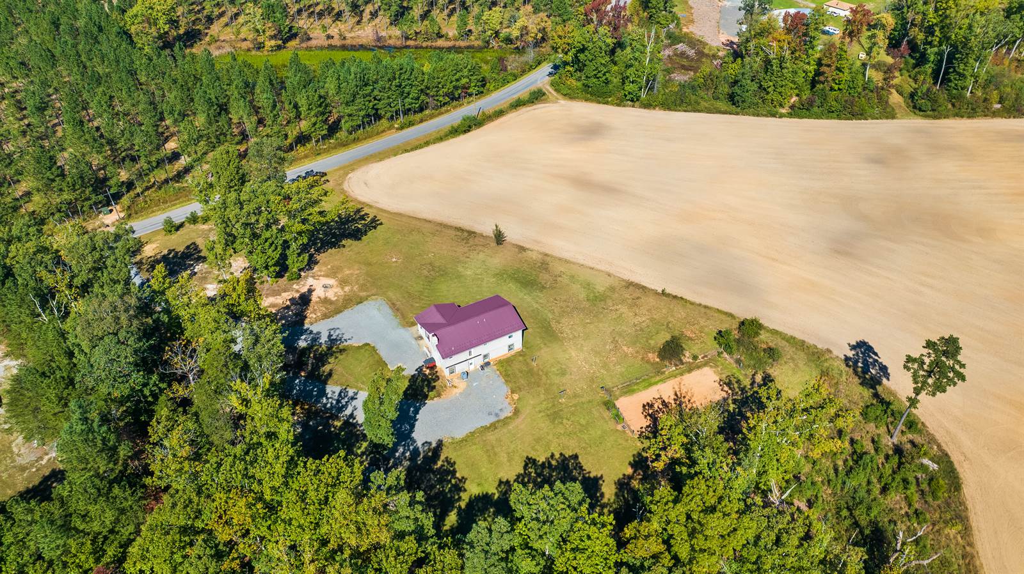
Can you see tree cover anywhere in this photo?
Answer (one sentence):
Yes, some tree cover is visible.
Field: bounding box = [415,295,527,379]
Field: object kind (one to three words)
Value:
house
